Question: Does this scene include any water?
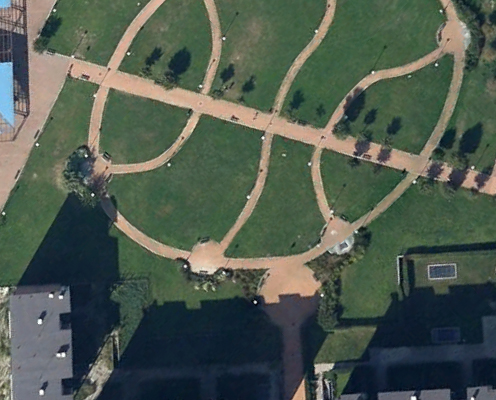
No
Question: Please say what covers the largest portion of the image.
grass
